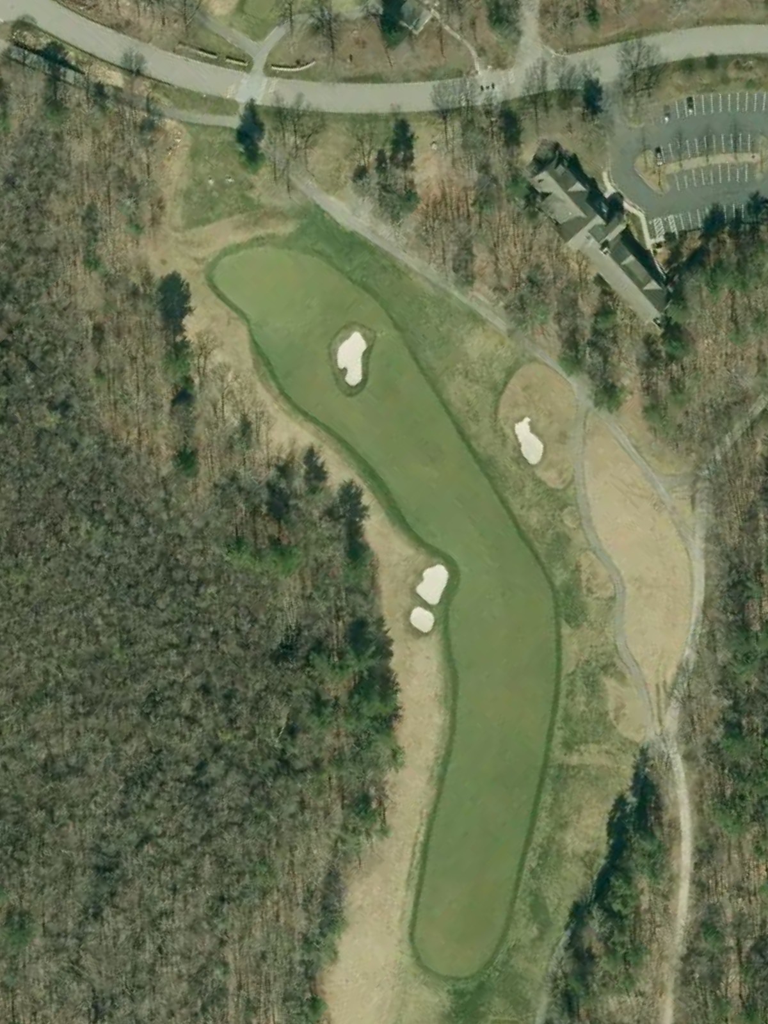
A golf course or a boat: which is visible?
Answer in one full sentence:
Of the two, only a golf course appears.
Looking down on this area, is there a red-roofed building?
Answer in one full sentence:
No, this view has no red-roofed building in it.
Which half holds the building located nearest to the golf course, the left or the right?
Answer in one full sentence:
The building located nearest to the golf course appears in the right half of the scene.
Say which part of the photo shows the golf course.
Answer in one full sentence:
Look in the center portion of the view to spot the golf course.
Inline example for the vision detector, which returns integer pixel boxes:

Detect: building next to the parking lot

[533,161,672,334]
